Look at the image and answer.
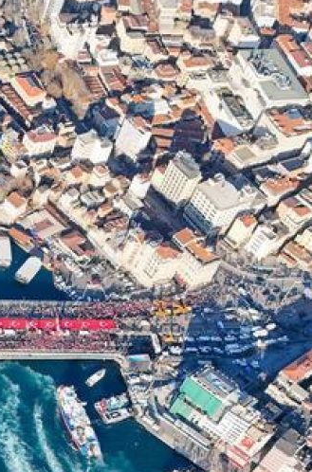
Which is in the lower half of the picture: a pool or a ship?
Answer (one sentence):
Looking in the lower half of the picture, you will find a ship.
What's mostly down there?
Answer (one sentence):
Most of the picture is covered by buildings.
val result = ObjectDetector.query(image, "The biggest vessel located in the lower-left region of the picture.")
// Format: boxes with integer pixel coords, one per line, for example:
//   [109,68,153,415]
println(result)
[52,380,108,461]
